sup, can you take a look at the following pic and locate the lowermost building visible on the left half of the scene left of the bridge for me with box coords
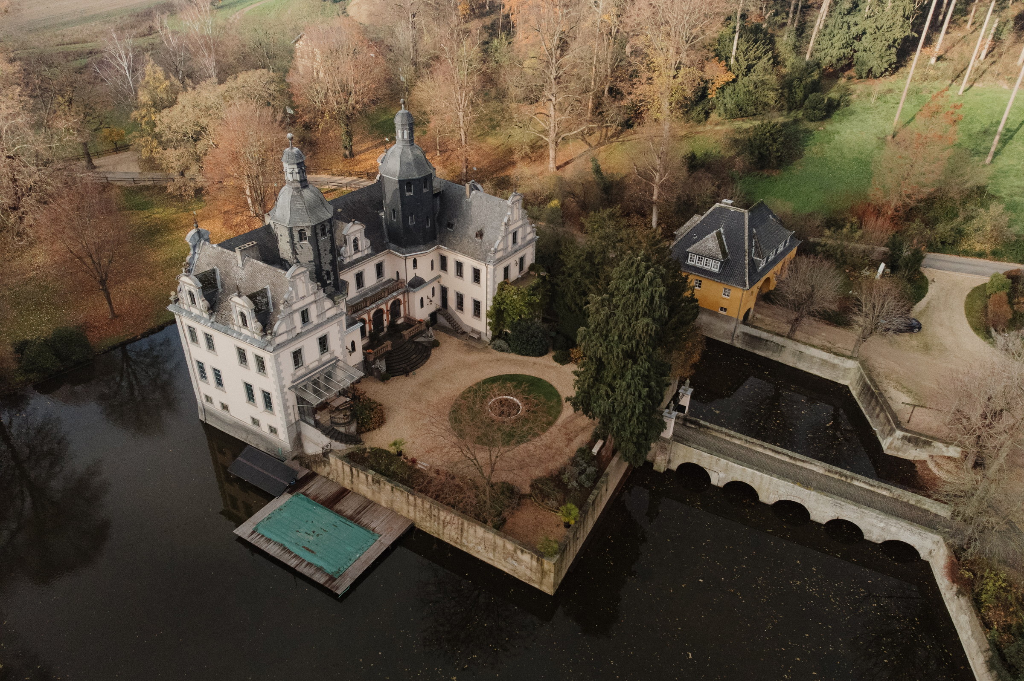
[161,81,548,469]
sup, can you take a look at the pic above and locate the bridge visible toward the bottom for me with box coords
[671,416,978,568]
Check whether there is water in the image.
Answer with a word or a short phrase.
Yes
